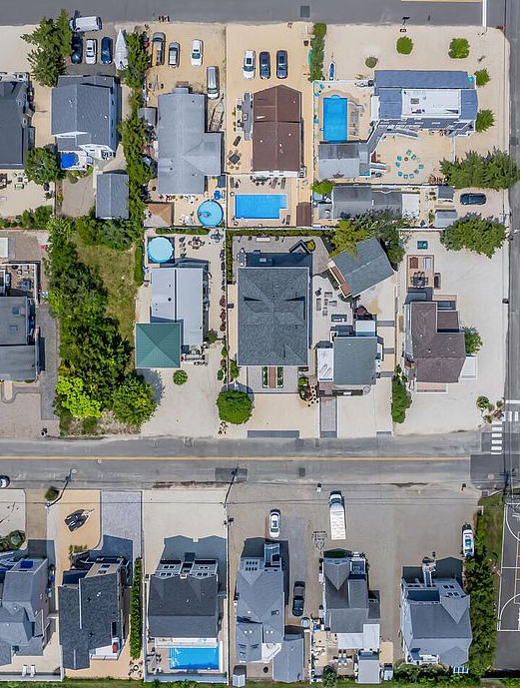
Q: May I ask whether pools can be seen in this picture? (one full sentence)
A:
Yes, the photo shows a pool.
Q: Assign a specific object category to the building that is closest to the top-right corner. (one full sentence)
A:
What you see as the building that is closest to the top-right corner is a home.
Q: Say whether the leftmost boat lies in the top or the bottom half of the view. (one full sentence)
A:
The bottom half of the photo is where the leftmost boat is.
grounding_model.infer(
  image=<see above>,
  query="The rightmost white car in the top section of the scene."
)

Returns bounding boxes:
[243,50,256,78]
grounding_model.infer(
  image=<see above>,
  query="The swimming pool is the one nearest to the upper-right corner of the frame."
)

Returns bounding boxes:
[322,95,349,142]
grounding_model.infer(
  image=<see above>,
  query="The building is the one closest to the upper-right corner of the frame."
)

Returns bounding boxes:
[368,70,479,149]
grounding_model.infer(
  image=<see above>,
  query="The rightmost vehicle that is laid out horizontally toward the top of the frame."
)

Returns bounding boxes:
[459,192,486,204]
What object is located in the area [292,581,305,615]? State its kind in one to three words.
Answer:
vehicle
